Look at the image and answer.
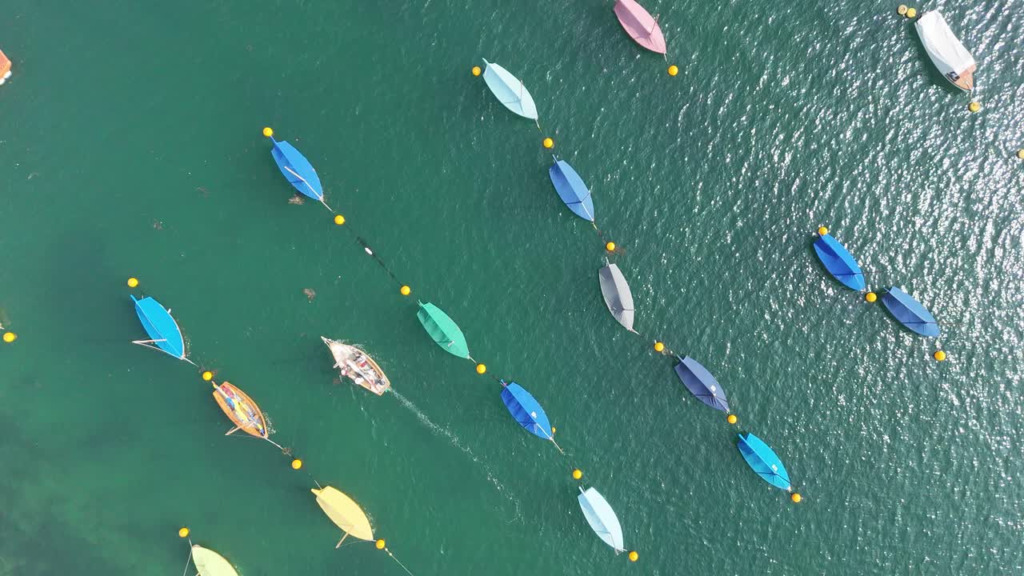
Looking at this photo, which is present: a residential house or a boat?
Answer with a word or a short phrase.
boat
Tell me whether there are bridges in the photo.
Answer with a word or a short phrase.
No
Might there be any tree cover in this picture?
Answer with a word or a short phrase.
No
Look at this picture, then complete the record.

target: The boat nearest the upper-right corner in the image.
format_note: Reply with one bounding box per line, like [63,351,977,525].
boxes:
[911,9,980,102]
